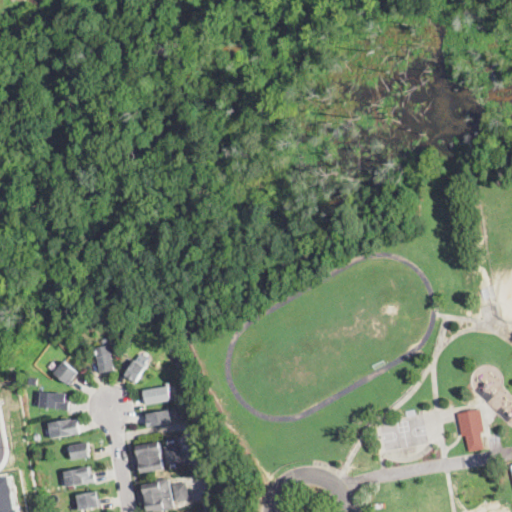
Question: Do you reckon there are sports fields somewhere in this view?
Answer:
Yes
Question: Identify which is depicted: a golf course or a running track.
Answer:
running track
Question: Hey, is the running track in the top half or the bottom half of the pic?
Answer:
bottom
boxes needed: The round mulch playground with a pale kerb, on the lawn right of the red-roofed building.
[470,362,512,426]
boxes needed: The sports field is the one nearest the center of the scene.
[231,258,432,416]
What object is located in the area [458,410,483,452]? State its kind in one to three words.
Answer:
building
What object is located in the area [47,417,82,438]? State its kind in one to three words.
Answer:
house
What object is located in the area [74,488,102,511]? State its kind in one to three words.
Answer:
house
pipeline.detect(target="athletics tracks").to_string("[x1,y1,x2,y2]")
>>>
[226,253,436,422]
